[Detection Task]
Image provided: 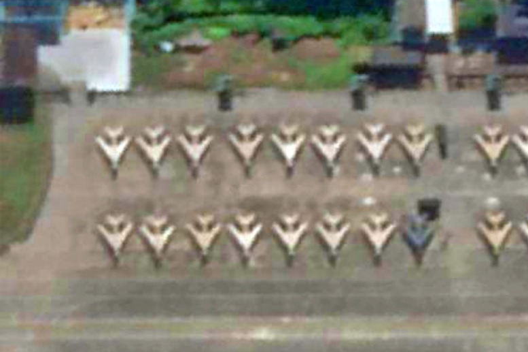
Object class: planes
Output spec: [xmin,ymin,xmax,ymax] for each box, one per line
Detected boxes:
[139,215,174,262]
[312,124,347,171]
[401,213,436,259]
[398,122,432,169]
[273,214,308,261]
[272,123,307,171]
[361,213,396,259]
[96,125,131,172]
[357,123,392,170]
[227,214,262,261]
[177,124,212,171]
[97,215,132,262]
[136,125,171,172]
[228,123,263,170]
[479,212,513,258]
[186,214,221,261]
[316,214,351,261]
[513,122,528,158]
[475,123,510,170]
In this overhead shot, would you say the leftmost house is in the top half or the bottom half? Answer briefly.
top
